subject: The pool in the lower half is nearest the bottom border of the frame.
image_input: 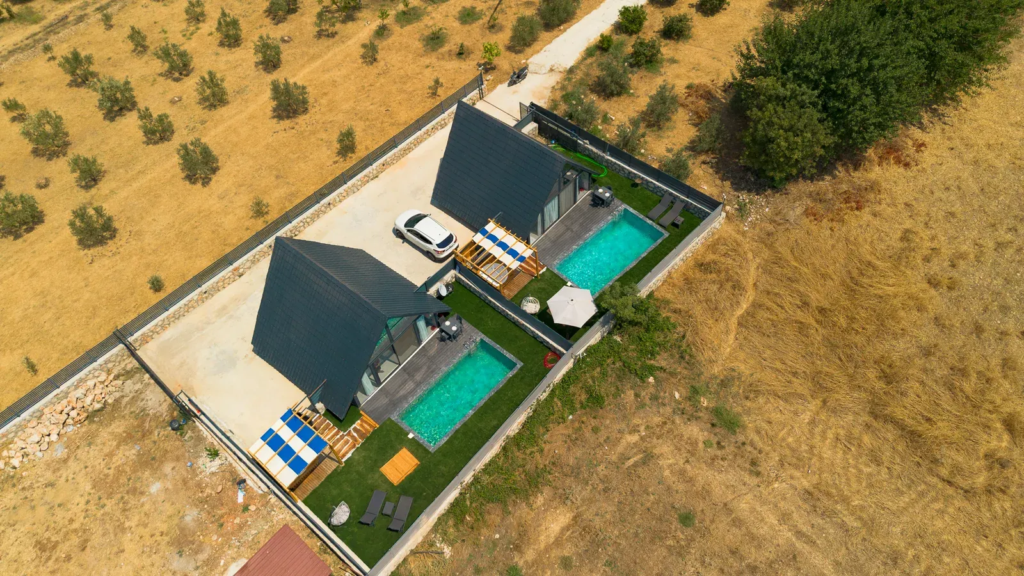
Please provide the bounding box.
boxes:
[388,332,525,455]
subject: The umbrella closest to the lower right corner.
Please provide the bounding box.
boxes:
[546,284,601,336]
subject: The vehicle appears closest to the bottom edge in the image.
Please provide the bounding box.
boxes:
[392,209,460,261]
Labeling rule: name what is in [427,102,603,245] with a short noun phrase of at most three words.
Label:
building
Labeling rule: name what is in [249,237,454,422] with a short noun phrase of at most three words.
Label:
building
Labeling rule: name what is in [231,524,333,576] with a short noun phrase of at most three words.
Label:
shed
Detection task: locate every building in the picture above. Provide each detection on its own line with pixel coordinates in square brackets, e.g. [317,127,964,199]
[249,237,454,422]
[231,524,333,576]
[427,102,603,245]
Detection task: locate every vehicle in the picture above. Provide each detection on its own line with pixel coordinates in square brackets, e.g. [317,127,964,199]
[508,63,527,84]
[392,209,460,261]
